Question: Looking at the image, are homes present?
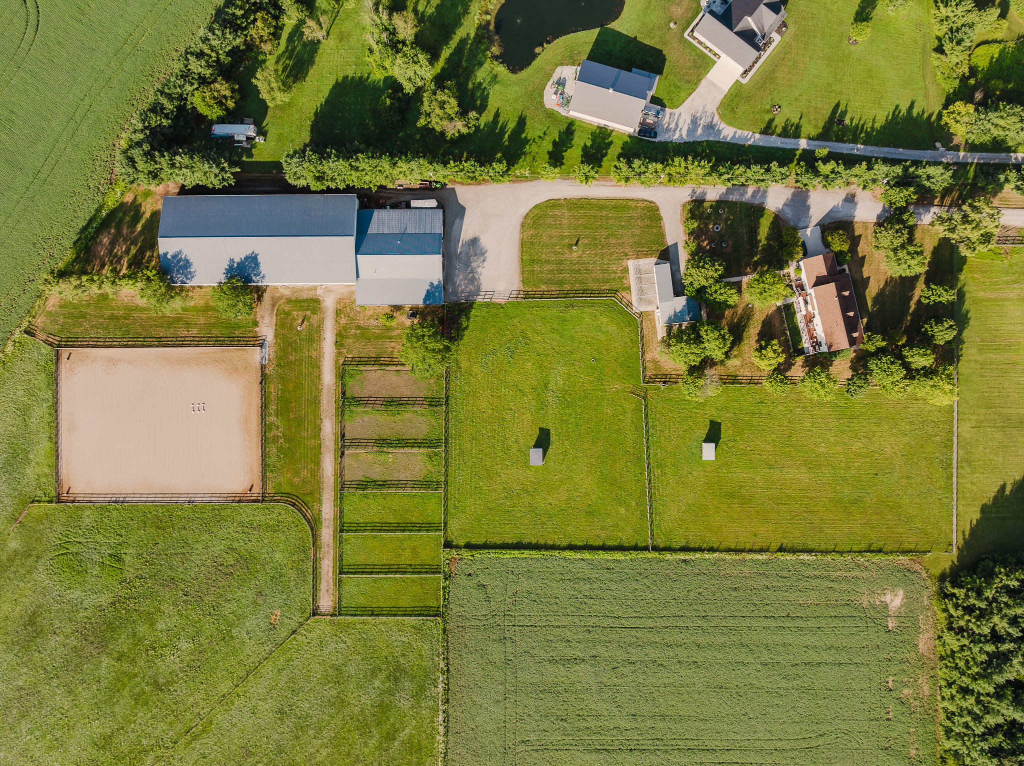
Yes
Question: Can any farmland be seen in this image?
Yes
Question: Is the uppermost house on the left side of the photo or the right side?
right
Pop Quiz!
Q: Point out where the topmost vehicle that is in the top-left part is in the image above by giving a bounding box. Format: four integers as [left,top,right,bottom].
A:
[212,124,260,137]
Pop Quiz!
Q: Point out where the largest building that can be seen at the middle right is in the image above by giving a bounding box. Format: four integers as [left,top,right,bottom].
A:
[797,253,864,352]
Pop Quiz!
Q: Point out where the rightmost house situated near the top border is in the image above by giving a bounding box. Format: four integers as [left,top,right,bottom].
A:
[693,0,787,71]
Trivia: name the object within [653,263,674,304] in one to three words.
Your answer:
building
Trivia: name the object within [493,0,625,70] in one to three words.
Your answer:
pond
